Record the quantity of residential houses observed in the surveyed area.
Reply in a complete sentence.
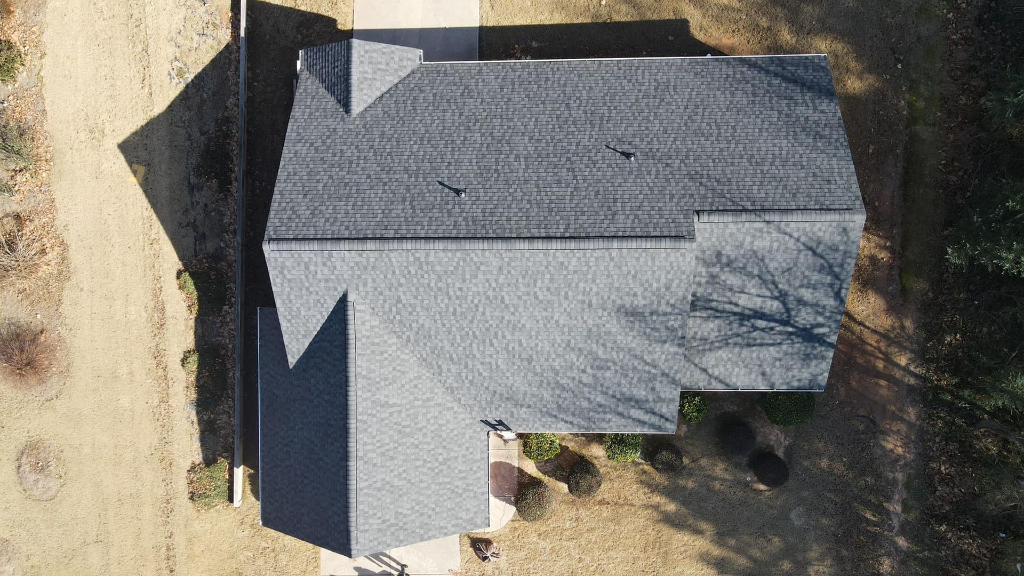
Altogether the scene contains 1 residential house.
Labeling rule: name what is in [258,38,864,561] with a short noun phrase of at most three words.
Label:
house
